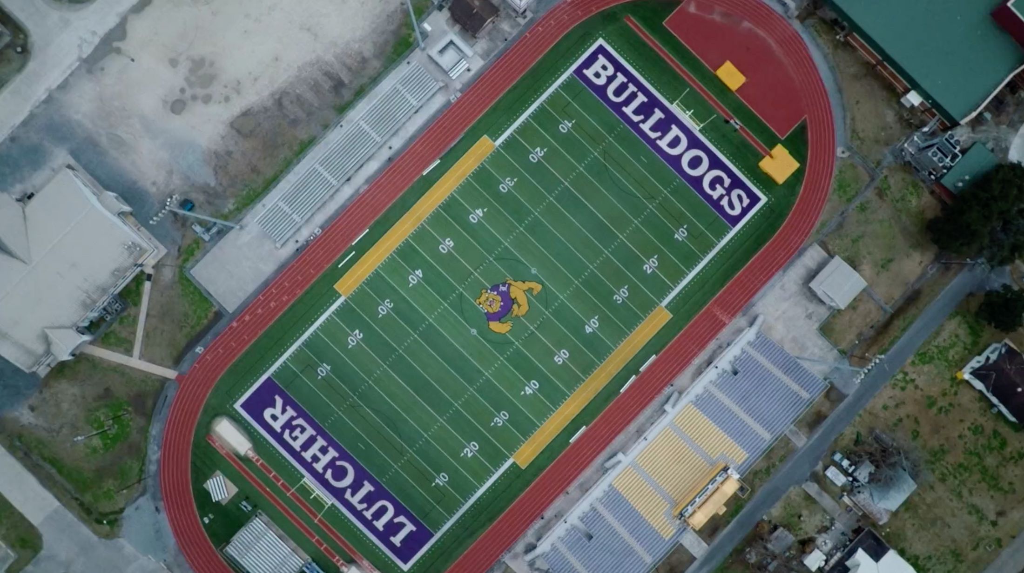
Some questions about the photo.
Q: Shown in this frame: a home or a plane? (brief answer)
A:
home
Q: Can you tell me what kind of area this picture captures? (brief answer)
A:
sports ground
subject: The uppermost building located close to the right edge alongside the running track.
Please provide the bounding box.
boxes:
[813,0,1024,130]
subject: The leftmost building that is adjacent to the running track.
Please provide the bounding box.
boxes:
[0,167,158,372]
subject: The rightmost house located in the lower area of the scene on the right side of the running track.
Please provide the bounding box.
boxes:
[961,337,1024,422]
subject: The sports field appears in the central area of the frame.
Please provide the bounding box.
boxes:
[191,0,806,573]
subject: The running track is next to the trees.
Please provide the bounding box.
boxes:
[160,0,835,573]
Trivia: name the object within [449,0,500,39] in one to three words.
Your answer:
shed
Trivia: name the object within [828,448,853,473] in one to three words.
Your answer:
truck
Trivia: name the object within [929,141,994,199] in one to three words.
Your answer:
shed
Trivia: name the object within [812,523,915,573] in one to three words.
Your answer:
house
